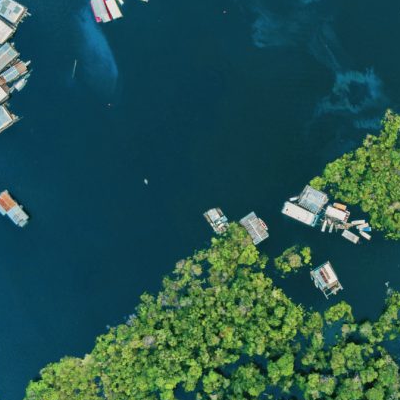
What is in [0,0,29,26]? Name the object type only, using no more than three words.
house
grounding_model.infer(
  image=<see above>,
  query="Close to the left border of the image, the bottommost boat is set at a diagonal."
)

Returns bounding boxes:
[9,74,30,93]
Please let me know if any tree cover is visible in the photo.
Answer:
Yes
